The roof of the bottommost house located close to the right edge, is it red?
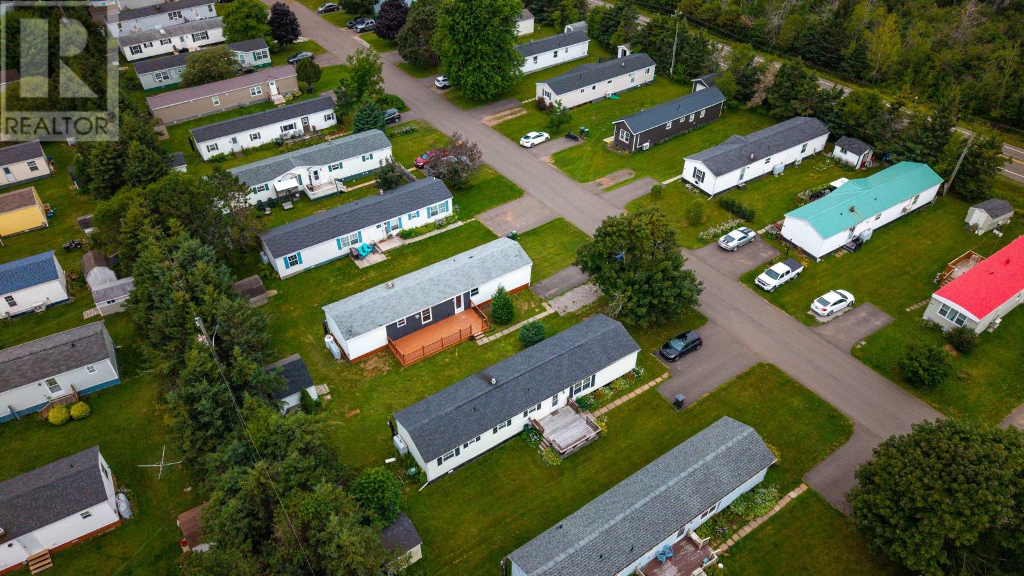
Yes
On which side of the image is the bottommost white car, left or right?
right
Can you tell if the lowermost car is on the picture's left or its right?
right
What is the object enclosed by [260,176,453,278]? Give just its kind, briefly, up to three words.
house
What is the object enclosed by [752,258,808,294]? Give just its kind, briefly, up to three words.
truck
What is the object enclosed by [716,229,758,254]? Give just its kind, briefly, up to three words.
car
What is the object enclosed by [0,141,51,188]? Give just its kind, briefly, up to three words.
house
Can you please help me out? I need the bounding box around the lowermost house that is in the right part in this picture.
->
[507,415,776,576]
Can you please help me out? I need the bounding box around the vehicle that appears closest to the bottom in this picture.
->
[658,329,706,363]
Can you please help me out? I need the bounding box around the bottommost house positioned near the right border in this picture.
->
[924,231,1024,335]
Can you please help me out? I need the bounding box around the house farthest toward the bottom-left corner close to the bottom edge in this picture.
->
[0,446,121,574]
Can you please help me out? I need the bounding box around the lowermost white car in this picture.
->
[810,289,854,320]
